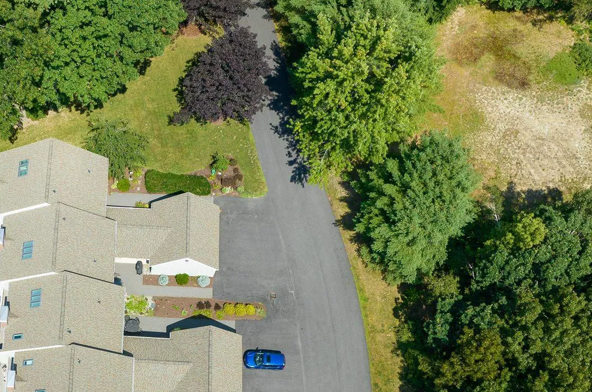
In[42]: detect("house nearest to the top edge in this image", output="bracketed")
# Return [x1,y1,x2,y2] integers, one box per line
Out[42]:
[0,138,110,229]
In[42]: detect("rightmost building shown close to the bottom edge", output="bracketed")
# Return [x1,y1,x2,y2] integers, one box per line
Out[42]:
[125,326,244,392]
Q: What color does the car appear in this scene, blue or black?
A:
blue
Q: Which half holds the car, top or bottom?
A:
bottom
